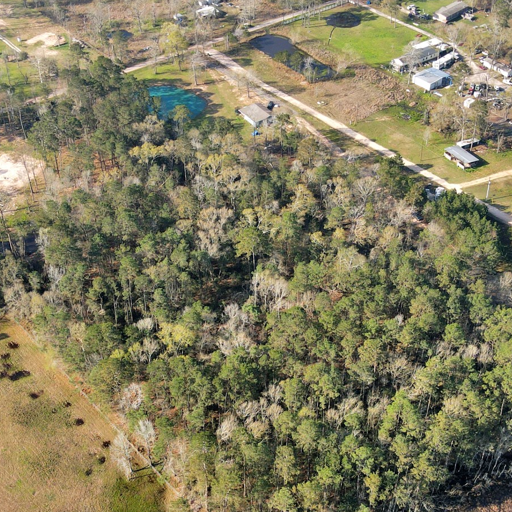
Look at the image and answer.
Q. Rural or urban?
rural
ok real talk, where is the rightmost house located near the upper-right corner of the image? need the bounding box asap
[483,57,512,78]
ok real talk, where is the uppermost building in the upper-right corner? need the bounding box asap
[429,2,470,26]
